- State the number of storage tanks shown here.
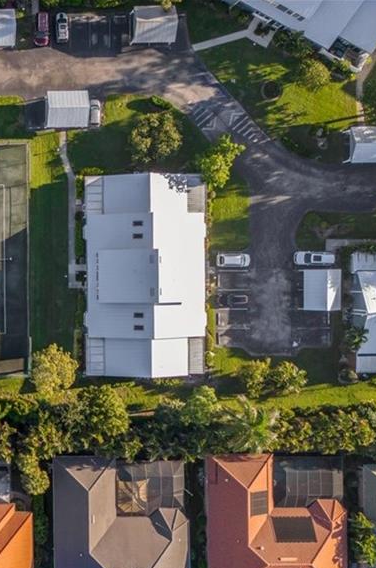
0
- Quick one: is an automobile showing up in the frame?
Yes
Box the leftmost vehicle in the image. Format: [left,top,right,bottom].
[34,12,50,48]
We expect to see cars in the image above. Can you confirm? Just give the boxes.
[214,252,249,268]
[34,12,50,48]
[89,97,103,129]
[55,12,70,45]
[294,251,335,267]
